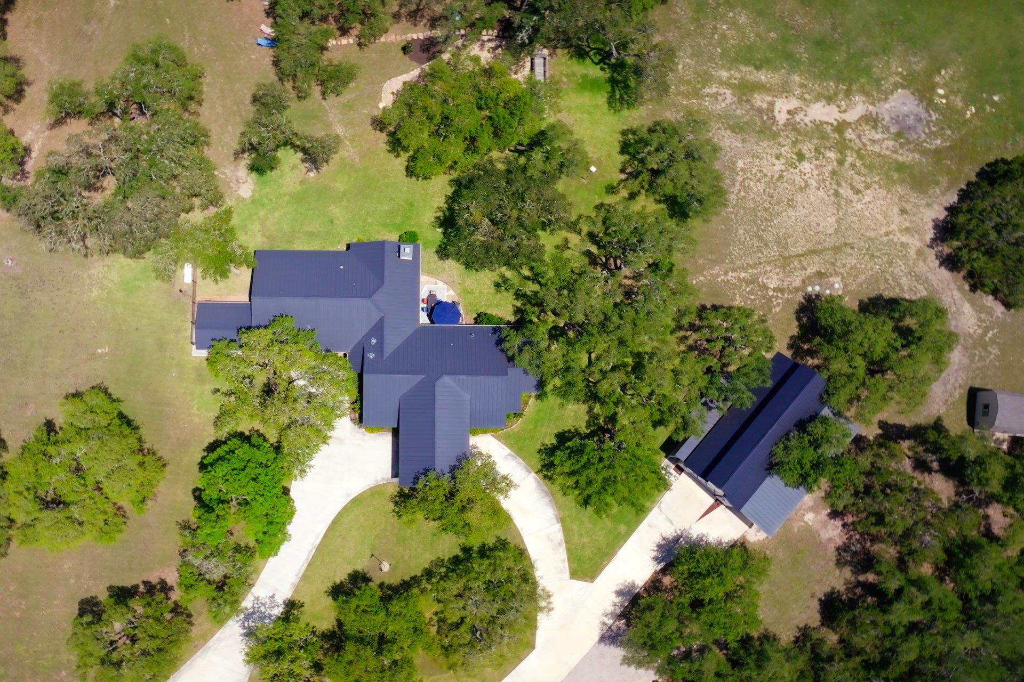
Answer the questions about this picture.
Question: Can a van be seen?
No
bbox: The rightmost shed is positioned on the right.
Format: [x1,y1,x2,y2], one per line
[975,390,1024,431]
